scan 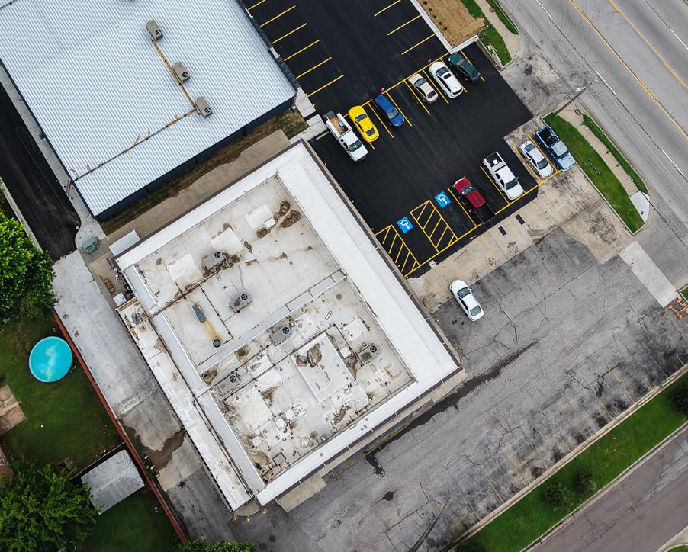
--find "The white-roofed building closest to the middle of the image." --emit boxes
[106,132,469,517]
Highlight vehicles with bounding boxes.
[451,278,486,323]
[405,72,441,106]
[519,138,554,179]
[326,112,367,161]
[374,92,405,128]
[533,124,576,170]
[481,151,523,200]
[452,176,496,227]
[446,50,484,87]
[349,105,380,143]
[428,62,464,99]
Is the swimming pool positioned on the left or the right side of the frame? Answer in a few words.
left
